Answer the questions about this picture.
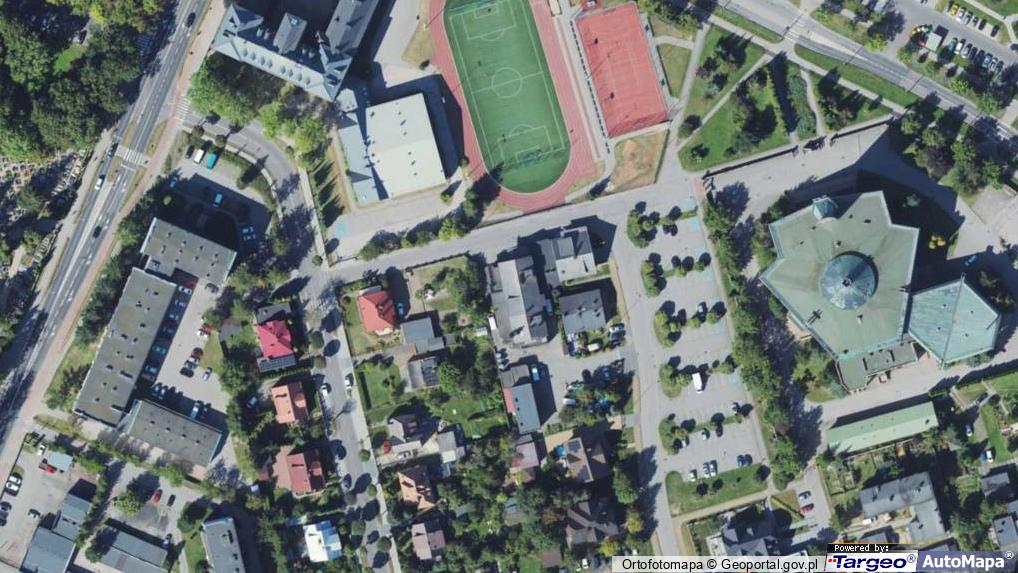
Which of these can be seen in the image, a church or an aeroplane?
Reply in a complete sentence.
Of the two, only a church appears.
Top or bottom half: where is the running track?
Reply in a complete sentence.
Seen from above, the running track lies in the top half of the view.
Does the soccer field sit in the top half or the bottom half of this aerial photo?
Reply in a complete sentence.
The top half of the photo is where the soccer field is.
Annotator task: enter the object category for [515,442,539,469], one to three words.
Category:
house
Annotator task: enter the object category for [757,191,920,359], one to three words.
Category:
church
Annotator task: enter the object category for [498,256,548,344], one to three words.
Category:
building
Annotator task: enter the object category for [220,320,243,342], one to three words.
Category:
shed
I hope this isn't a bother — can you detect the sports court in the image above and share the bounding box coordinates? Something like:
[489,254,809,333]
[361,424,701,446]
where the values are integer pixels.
[576,2,668,137]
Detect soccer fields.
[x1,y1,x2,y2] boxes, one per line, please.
[442,0,570,194]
